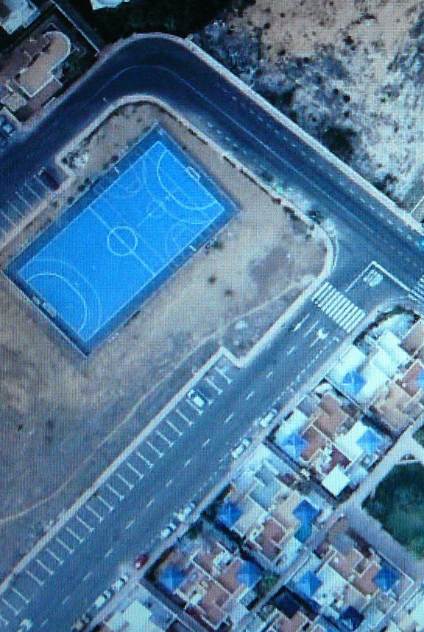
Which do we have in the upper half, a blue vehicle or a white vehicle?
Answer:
blue vehicle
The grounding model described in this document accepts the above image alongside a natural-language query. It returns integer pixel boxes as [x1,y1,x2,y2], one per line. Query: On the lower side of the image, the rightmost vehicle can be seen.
[259,407,277,427]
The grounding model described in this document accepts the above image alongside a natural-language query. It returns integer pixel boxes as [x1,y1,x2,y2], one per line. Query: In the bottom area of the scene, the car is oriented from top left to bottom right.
[188,389,207,408]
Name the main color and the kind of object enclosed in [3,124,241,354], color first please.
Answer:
blue sports court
